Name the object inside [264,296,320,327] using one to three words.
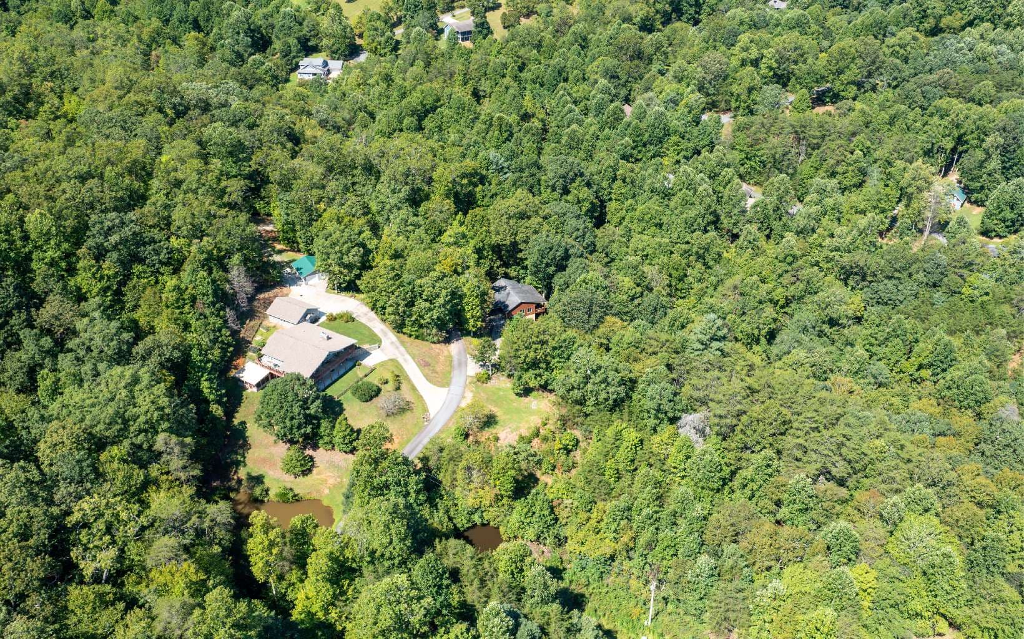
building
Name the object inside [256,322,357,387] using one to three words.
house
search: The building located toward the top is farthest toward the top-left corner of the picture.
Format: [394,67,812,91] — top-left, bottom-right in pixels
[295,53,348,76]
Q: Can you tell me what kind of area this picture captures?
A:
forest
